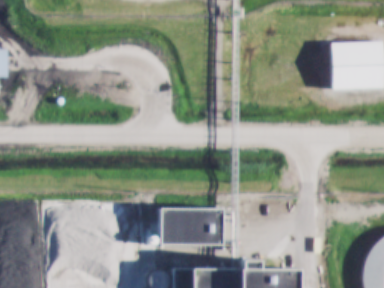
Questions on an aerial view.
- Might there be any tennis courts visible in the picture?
No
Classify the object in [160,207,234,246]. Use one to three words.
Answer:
building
